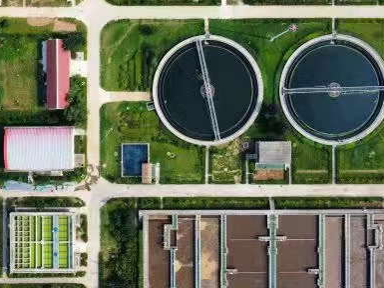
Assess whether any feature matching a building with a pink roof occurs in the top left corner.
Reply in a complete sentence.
Yes, a building with a pink roof is visible in the top left corner.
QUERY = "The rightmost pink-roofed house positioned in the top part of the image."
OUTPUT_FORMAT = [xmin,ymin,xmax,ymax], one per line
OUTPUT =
[42,37,83,109]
